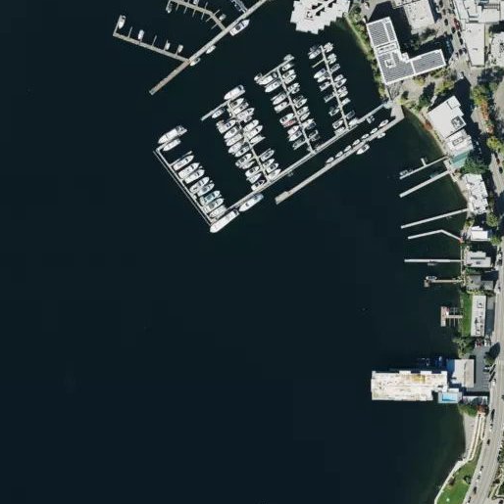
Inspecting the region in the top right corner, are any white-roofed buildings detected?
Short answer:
Yes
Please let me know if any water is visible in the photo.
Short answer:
Yes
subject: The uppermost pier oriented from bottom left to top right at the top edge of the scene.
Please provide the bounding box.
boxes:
[150,0,273,95]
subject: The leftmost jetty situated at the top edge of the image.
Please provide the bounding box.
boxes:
[114,22,188,61]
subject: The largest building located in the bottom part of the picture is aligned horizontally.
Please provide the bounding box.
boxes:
[371,371,447,401]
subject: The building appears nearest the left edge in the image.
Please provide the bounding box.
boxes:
[290,0,350,34]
